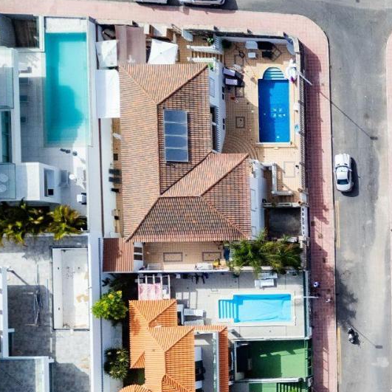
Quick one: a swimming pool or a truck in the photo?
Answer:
swimming pool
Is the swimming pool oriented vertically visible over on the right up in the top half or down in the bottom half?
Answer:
top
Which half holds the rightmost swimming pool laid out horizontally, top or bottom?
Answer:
bottom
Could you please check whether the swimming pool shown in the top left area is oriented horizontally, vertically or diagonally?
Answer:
vertically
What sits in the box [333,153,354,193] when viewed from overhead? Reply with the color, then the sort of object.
white car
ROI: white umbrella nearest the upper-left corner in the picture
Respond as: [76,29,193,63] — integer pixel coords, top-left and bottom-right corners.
[96,40,118,69]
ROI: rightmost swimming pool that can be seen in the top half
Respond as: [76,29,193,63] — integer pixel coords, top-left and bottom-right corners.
[255,65,293,145]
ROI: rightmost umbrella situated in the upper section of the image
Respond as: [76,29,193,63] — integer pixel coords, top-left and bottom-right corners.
[152,39,180,63]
